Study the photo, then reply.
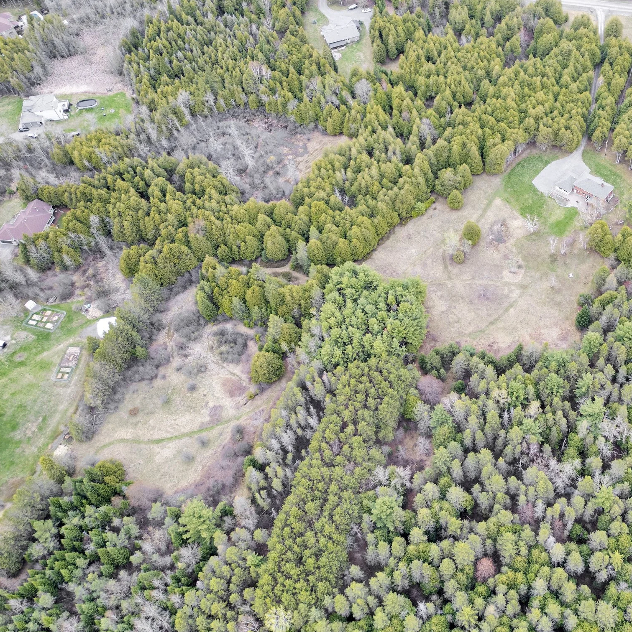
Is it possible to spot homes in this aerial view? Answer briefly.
Yes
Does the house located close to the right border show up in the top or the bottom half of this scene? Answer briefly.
top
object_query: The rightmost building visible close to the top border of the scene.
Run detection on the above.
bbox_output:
[322,16,360,52]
